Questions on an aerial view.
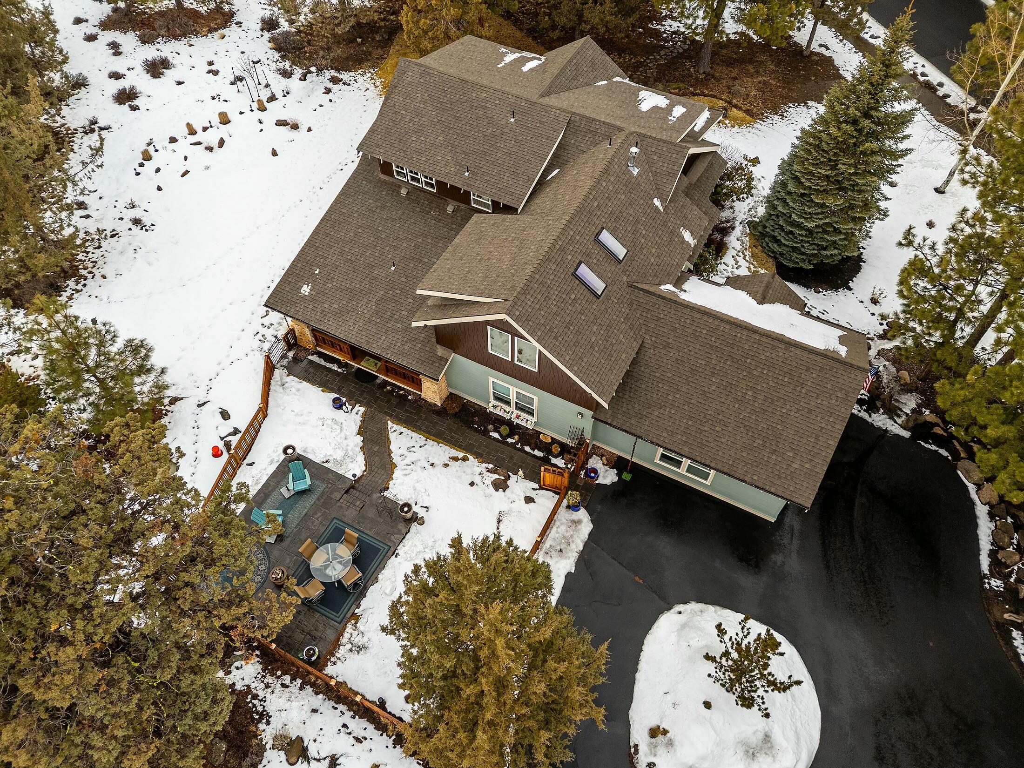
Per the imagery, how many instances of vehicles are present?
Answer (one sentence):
There are no vehicles in this view.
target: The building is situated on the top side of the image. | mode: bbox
[263,34,869,522]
